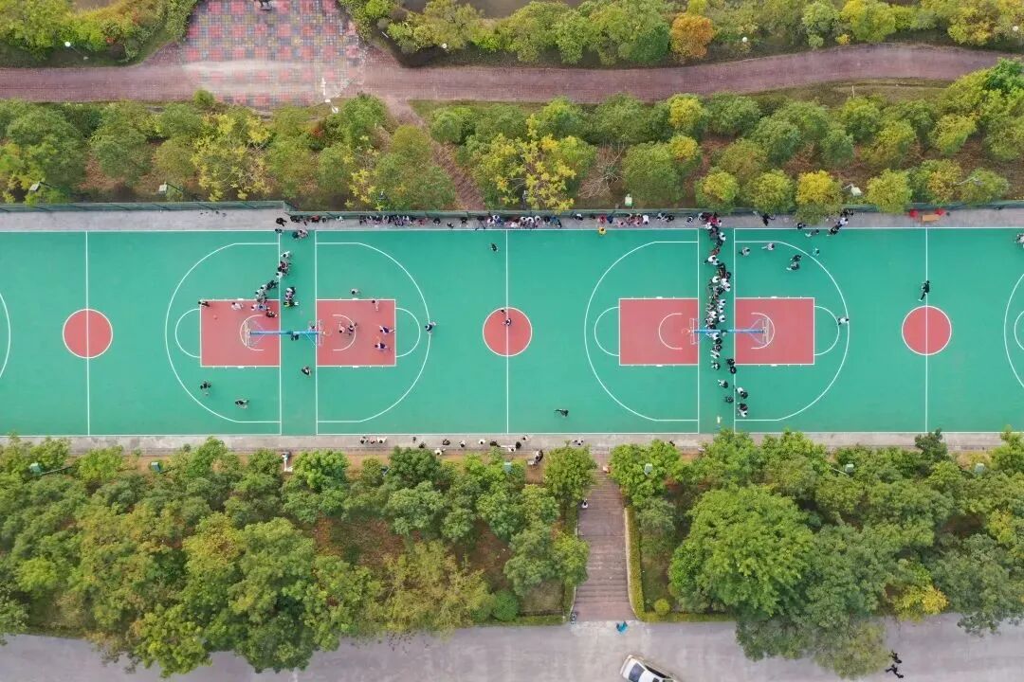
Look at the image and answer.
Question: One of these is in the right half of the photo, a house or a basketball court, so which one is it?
basketball court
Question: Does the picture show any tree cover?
Yes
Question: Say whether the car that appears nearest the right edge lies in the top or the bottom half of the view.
bottom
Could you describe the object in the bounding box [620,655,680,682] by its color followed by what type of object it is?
white car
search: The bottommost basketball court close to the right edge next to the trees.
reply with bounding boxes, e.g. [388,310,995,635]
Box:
[717,227,1024,434]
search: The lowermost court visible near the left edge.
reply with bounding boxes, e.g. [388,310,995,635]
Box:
[0,230,299,437]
